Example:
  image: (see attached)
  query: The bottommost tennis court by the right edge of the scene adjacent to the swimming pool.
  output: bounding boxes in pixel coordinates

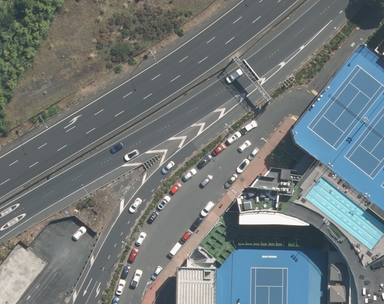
[344,108,384,180]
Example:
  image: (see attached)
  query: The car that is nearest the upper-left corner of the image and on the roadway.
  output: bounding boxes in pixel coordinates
[109,141,125,154]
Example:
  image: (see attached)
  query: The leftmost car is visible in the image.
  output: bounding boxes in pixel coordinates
[72,226,87,240]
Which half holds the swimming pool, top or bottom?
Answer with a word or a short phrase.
bottom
